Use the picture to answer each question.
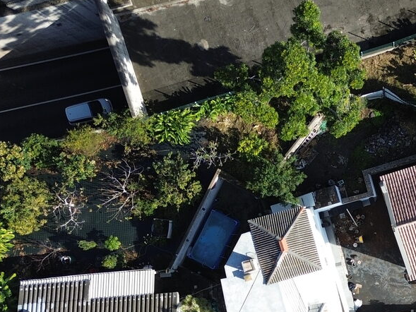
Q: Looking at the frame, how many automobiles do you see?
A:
1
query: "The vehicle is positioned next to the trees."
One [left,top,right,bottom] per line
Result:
[65,99,113,126]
